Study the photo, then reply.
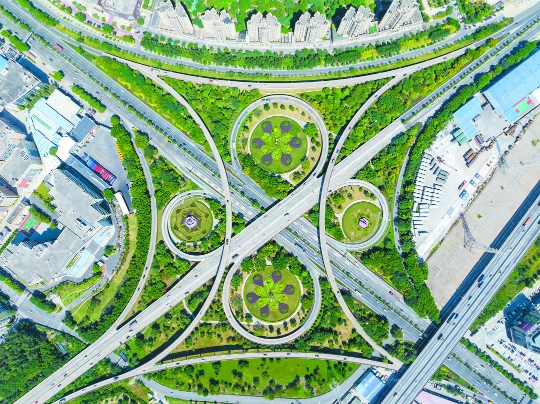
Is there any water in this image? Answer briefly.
No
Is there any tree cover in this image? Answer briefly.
Yes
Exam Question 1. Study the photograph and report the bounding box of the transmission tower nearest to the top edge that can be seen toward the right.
[462,239,498,258]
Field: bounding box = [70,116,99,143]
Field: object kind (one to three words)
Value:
shed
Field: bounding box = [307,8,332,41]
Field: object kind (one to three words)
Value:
building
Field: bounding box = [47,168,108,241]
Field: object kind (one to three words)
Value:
building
